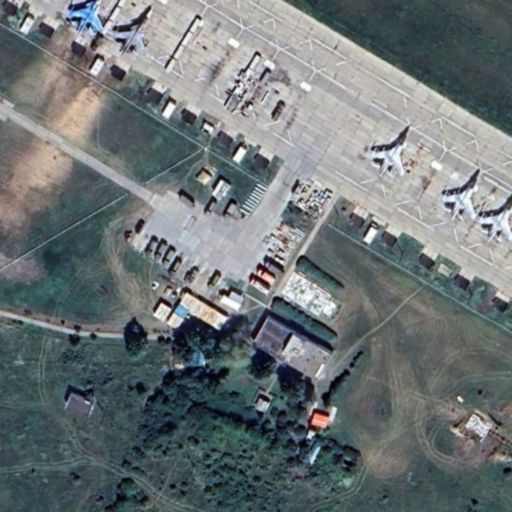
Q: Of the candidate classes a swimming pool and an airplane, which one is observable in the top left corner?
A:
airplane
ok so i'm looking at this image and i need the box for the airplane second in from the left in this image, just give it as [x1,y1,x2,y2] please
[113,9,153,63]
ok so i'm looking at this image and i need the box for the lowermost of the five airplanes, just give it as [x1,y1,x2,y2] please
[479,203,512,247]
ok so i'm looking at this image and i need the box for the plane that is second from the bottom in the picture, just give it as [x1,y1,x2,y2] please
[443,170,483,225]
